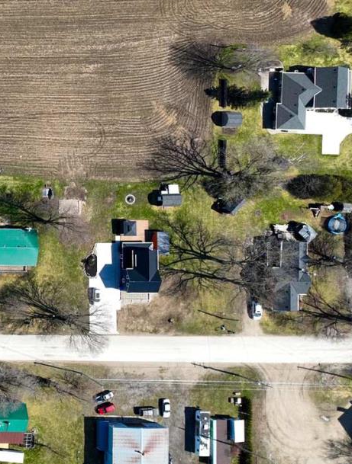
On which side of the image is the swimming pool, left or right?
right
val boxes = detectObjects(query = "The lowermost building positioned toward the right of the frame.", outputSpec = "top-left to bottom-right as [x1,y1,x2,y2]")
[206,417,239,464]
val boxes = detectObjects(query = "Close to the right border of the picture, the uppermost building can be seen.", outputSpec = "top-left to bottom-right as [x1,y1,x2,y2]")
[271,64,352,130]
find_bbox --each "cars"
[161,398,172,417]
[252,301,261,320]
[97,390,113,403]
[92,286,101,305]
[95,403,116,415]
